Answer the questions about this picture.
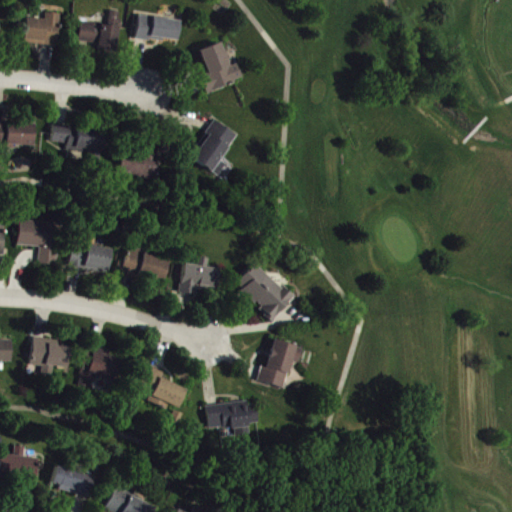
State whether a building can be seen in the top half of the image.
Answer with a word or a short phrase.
Yes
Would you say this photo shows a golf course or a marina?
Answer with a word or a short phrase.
golf course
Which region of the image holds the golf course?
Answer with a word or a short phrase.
right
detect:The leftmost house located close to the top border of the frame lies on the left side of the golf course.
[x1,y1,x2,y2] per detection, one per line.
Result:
[24,12,61,44]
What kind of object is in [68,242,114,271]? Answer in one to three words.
house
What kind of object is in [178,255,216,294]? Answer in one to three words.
house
